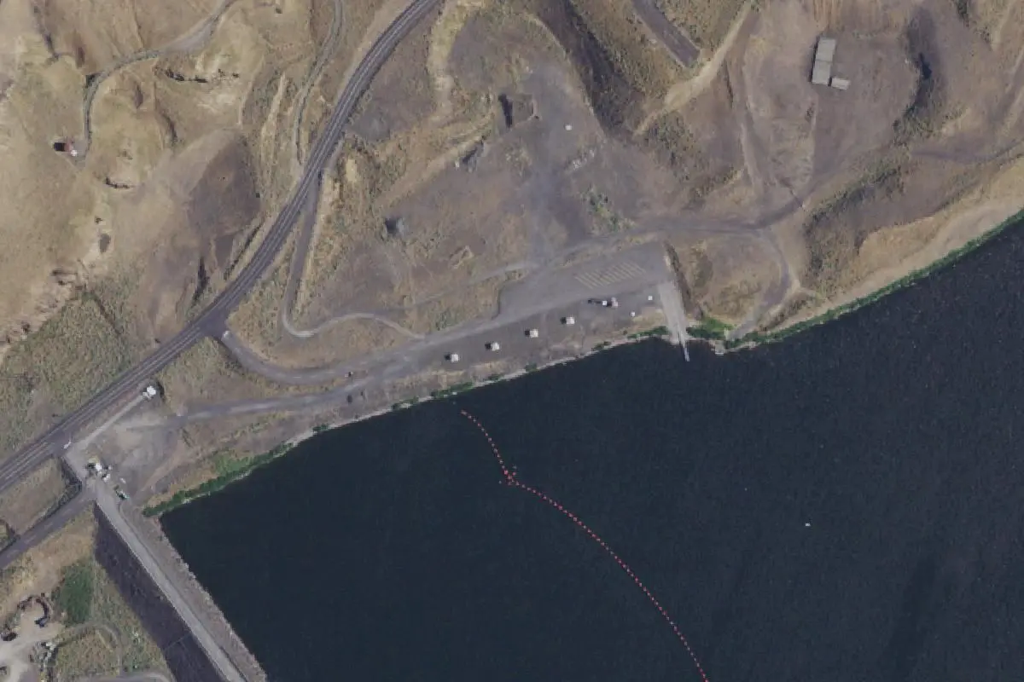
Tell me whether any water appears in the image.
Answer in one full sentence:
Yes, some water is visible.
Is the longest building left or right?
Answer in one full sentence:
The longest building is on the right side of the image.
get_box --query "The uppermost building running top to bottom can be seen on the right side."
[813,36,837,84]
